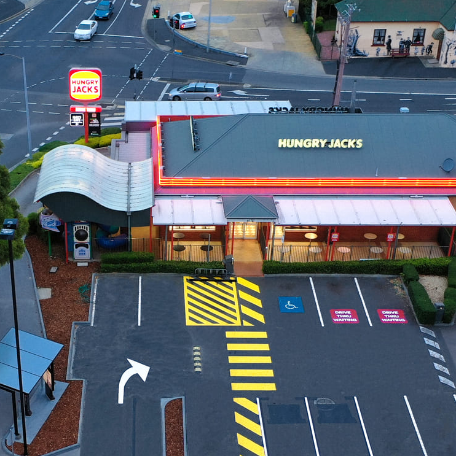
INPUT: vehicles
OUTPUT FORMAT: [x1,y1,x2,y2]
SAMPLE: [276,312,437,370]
[168,78,222,102]
[90,0,115,19]
[169,10,199,29]
[71,18,100,38]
